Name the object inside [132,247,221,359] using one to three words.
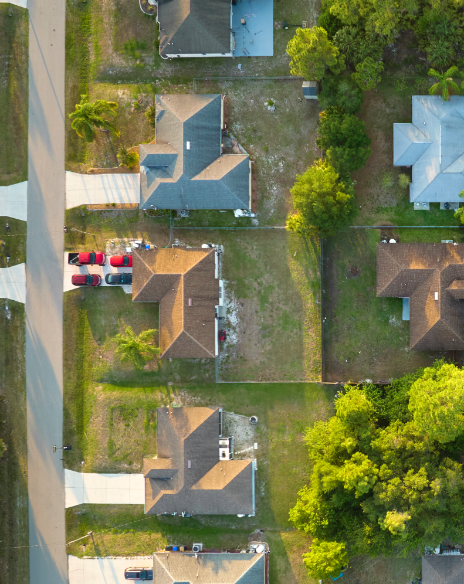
house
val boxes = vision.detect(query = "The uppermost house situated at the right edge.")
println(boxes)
[393,95,464,203]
